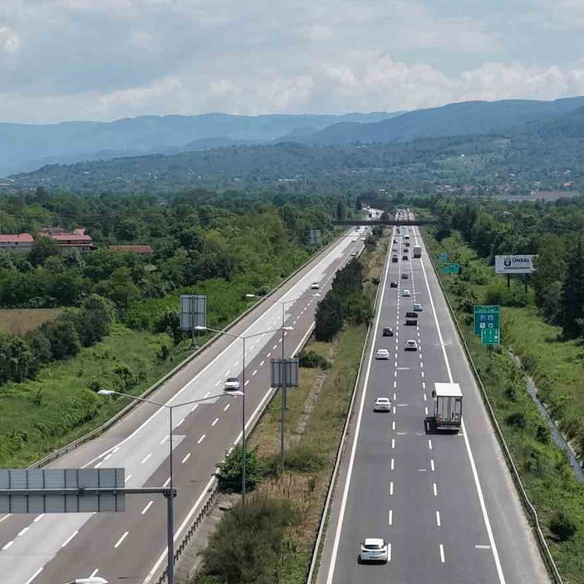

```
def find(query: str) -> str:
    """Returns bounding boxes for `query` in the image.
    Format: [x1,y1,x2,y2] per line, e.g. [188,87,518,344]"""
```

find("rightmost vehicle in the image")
[431,382,461,428]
